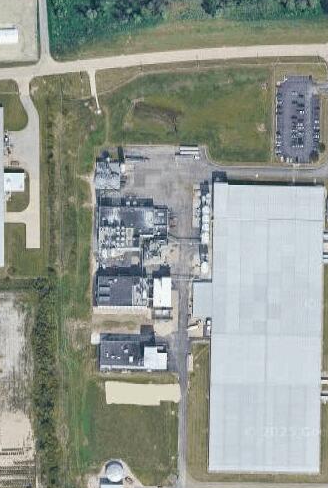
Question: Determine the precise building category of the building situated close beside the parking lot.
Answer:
warehouse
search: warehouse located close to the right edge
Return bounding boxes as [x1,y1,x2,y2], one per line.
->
[209,183,325,473]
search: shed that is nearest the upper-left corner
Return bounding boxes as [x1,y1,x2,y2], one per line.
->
[0,27,19,44]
